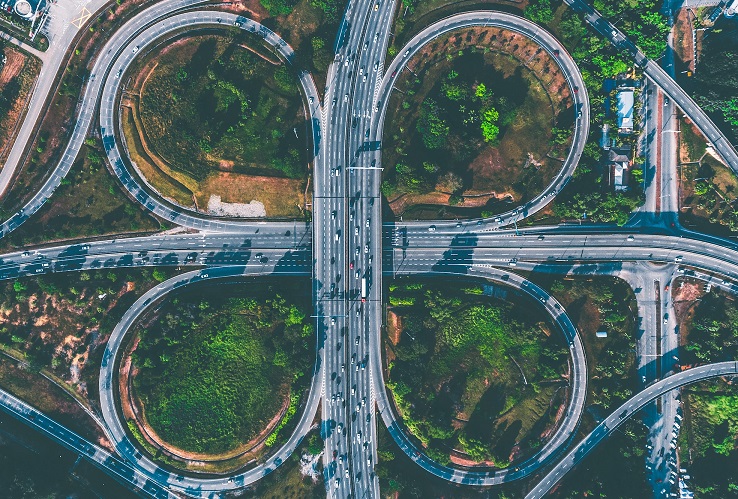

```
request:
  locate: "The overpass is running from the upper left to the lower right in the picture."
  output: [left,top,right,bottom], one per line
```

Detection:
[562,0,738,174]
